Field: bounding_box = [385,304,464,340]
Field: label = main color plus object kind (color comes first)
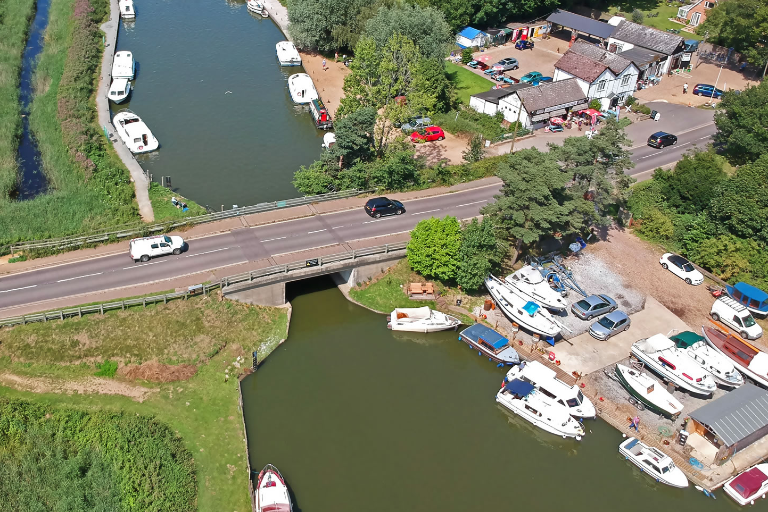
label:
white boat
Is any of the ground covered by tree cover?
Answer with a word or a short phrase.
Yes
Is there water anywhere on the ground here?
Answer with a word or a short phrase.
Yes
